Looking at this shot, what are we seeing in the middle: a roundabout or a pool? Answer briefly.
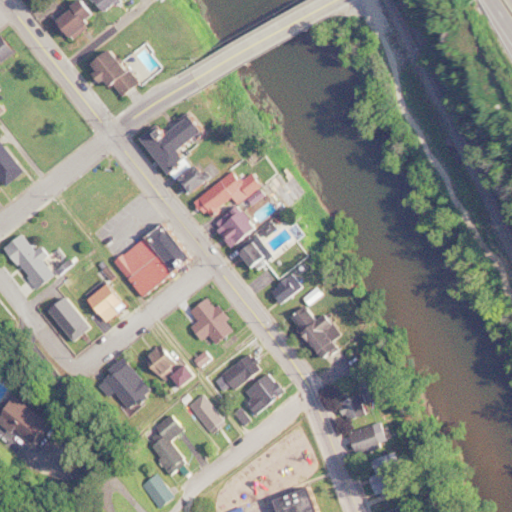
pool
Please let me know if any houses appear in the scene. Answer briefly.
Yes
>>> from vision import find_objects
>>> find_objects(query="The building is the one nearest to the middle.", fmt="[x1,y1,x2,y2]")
[238,236,272,268]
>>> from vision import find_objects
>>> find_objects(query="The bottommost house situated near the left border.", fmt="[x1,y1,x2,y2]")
[0,396,36,438]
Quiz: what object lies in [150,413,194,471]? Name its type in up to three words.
house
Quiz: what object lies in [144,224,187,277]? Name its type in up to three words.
building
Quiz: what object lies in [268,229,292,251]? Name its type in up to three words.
swimming pool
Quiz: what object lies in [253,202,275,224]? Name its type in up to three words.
swimming pool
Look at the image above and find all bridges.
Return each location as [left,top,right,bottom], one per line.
[186,0,358,93]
